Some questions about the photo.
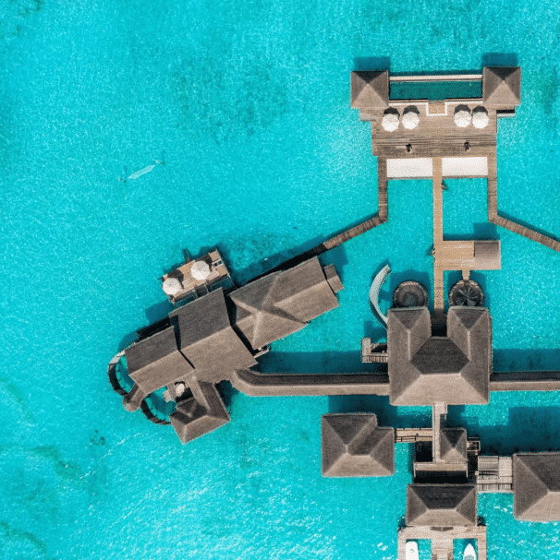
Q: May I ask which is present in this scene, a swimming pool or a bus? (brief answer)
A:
swimming pool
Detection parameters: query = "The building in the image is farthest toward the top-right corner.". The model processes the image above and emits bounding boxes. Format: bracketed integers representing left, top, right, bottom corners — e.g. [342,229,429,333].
[483,66,522,106]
